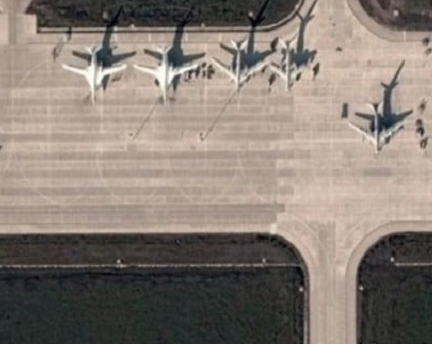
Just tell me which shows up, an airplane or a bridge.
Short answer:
airplane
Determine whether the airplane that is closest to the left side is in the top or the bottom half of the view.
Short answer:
top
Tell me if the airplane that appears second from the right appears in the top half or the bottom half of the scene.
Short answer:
top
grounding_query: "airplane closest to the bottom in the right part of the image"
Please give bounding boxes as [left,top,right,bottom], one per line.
[349,103,405,158]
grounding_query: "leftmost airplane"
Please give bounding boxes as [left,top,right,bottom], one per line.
[63,48,126,105]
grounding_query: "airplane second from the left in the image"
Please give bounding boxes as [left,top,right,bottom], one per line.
[133,47,195,105]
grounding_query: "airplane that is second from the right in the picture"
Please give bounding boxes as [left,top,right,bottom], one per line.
[271,39,305,91]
